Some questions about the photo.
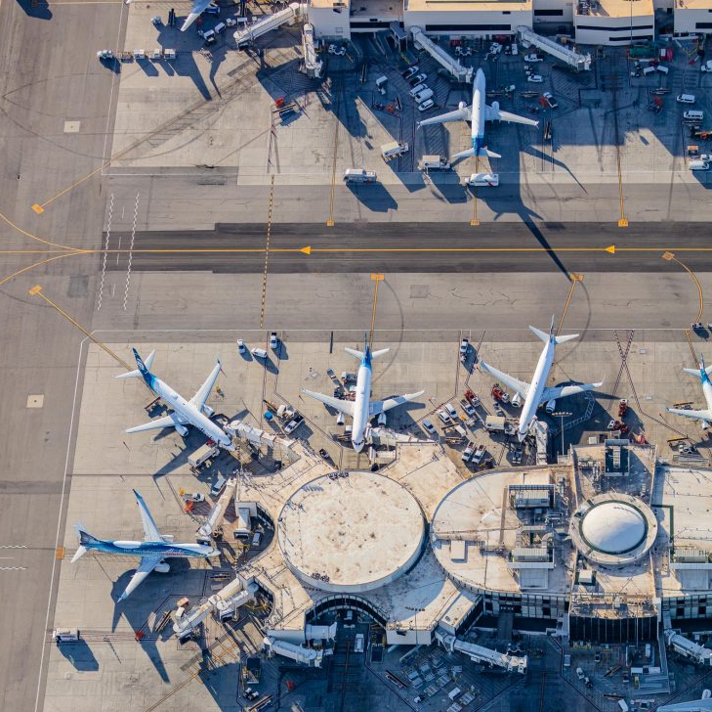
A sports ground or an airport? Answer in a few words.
airport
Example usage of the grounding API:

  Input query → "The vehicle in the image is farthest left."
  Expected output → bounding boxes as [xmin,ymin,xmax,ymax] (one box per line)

[51,626,80,640]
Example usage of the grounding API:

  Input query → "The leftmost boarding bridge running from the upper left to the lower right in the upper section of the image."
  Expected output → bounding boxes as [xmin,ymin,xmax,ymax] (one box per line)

[415,25,478,86]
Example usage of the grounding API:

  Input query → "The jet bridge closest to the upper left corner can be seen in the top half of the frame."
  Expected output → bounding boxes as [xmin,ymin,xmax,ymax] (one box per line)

[227,2,308,55]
